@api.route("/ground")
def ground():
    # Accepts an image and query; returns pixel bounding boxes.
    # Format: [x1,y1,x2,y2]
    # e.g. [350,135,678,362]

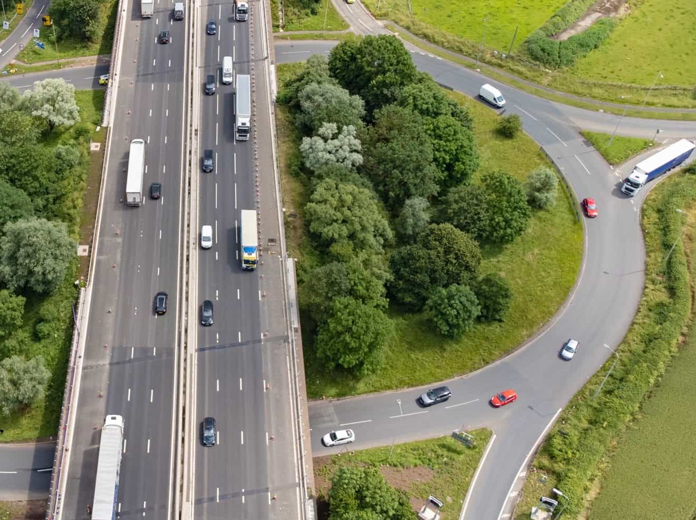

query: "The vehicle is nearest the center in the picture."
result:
[239,209,259,270]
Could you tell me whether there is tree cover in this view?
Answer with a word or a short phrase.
Yes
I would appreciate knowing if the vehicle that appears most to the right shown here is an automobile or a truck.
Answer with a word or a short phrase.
truck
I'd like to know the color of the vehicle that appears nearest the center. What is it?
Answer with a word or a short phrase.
white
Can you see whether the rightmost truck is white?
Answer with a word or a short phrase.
Yes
